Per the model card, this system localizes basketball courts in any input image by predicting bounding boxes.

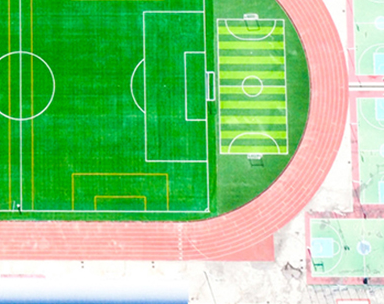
[350,90,384,210]
[305,210,384,284]
[346,0,384,83]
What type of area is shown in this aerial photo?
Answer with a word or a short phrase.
sports ground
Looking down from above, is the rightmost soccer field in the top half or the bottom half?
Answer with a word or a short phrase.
top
